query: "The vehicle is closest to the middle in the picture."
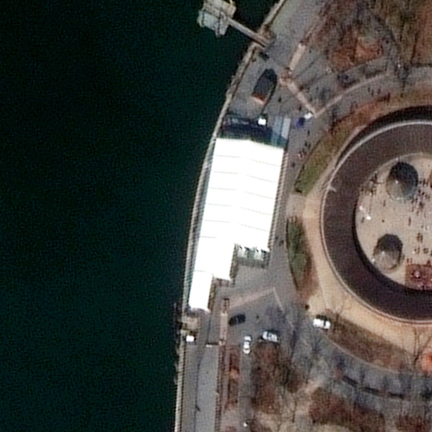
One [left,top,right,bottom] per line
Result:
[226,313,246,327]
